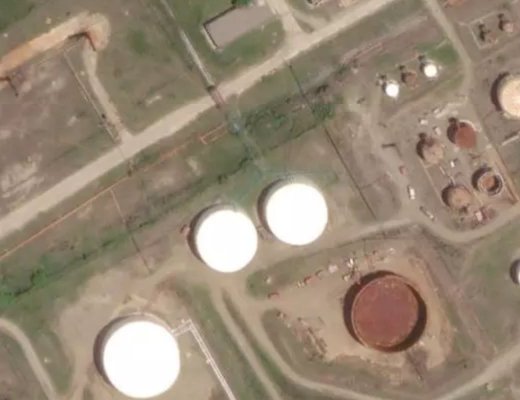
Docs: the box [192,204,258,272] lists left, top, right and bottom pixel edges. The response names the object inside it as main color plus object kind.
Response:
white storage tank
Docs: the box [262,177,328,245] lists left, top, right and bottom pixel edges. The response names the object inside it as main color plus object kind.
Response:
white storage tank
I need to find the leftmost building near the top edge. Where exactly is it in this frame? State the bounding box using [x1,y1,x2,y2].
[200,0,275,50]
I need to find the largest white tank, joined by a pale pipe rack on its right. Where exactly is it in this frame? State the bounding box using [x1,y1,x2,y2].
[101,313,181,397]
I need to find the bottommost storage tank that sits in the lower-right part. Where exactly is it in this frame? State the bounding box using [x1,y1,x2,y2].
[348,271,427,350]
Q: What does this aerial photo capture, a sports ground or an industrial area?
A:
industrial area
